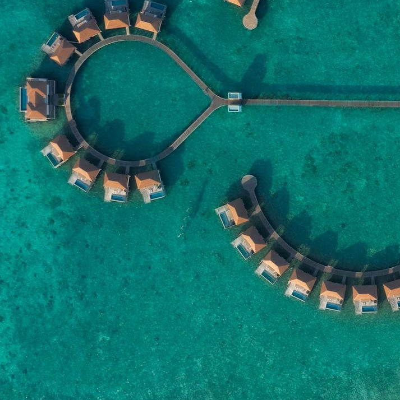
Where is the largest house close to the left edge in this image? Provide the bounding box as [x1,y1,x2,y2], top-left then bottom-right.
[19,79,58,121]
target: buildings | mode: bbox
[135,170,168,205]
[19,79,58,121]
[42,134,78,169]
[231,227,267,261]
[104,0,133,30]
[104,173,133,204]
[135,0,169,33]
[215,198,250,229]
[384,279,400,312]
[285,267,318,302]
[42,31,79,66]
[225,93,240,112]
[353,284,379,316]
[255,250,290,286]
[69,158,104,194]
[321,281,347,311]
[70,8,103,43]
